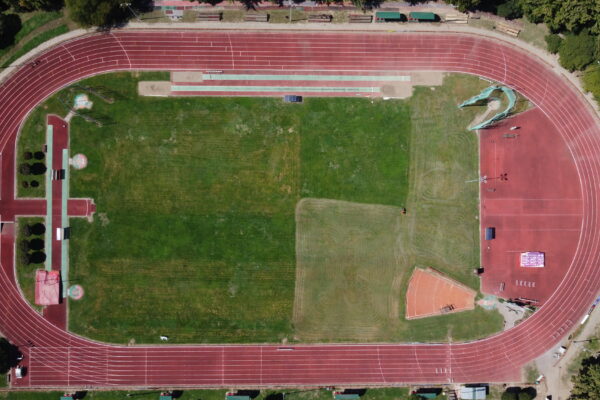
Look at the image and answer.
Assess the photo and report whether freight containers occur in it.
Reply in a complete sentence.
No, there appears to be no freight container in this shot.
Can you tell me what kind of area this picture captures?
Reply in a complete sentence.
It's a sports ground.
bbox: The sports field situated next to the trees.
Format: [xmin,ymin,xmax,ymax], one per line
[15,70,536,344]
